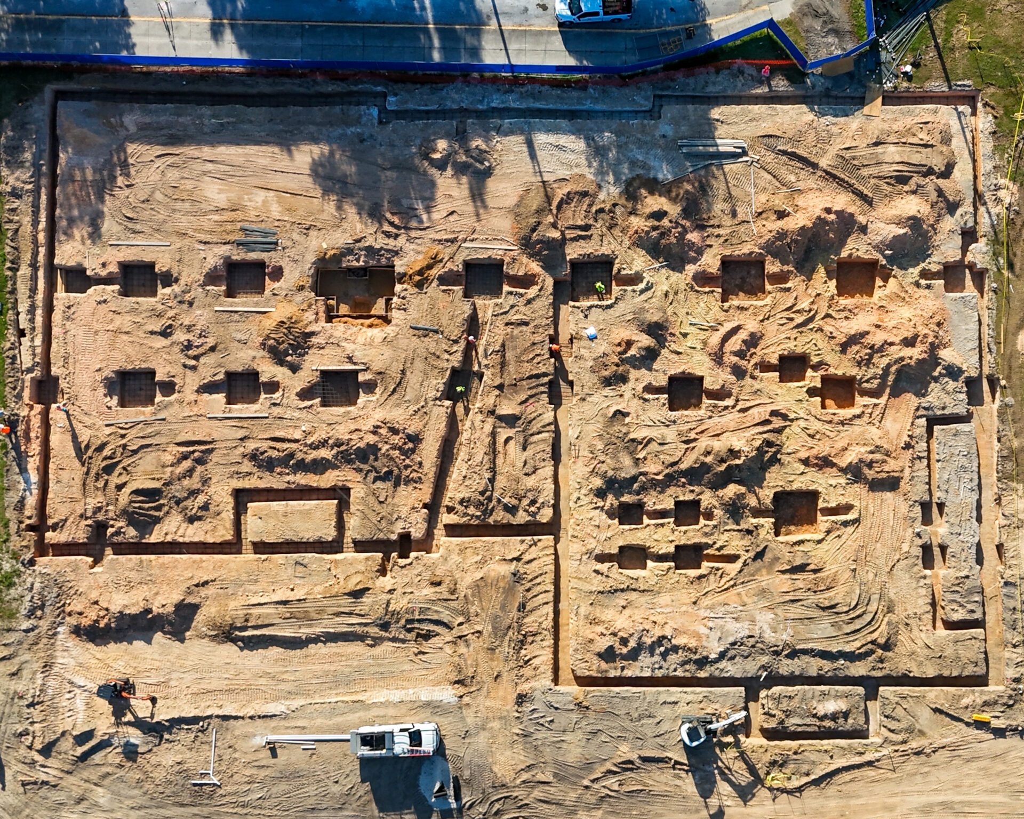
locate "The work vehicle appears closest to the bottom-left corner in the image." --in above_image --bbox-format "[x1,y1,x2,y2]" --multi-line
[95,678,156,706]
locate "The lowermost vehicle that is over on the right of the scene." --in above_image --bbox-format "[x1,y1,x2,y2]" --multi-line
[681,708,749,746]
